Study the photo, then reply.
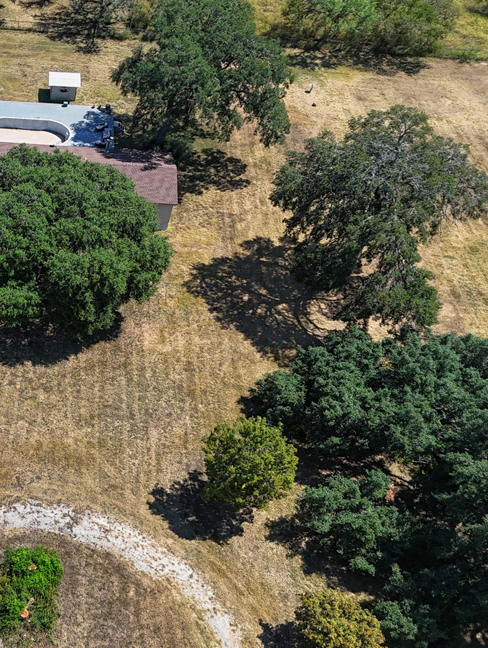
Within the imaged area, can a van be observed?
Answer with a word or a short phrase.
No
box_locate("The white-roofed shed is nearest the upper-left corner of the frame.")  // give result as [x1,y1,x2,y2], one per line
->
[49,70,80,103]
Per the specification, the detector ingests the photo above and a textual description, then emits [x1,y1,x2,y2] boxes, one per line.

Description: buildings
[49,70,80,103]
[0,141,179,227]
